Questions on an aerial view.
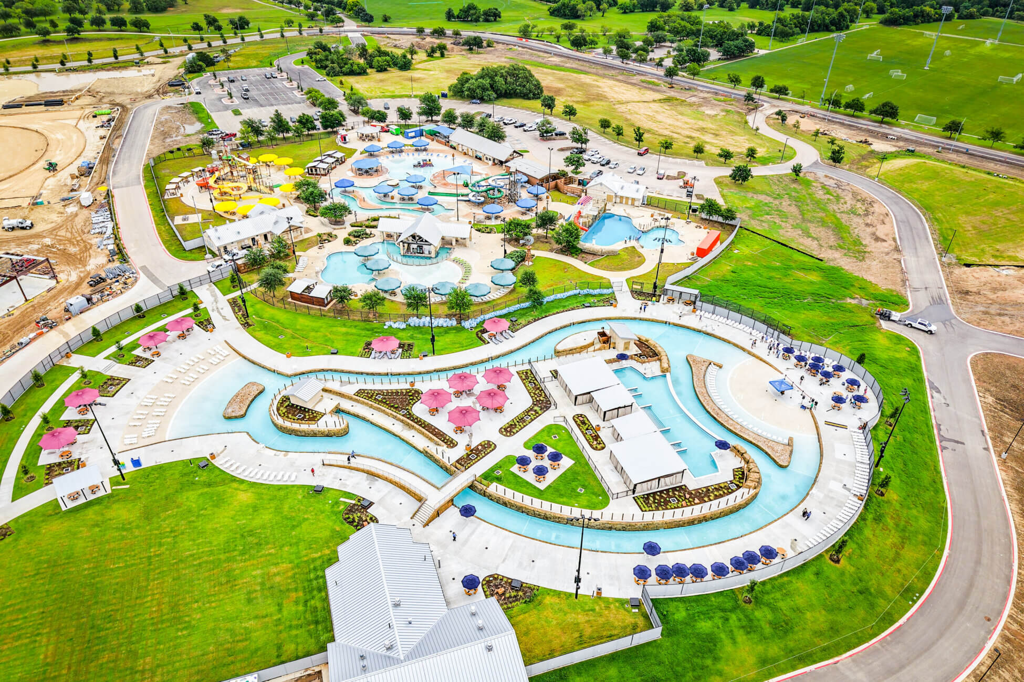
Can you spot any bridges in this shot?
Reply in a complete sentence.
Yes, the frame does contain a bridge.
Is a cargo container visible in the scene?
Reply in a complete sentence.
Yes, there is a cargo container in the image.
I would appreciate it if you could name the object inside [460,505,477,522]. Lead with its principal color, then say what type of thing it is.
blue umbrella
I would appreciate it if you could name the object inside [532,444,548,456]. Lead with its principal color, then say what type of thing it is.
blue umbrella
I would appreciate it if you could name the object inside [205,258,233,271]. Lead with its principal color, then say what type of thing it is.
white vehicle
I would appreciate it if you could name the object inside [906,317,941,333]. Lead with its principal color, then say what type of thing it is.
white vehicle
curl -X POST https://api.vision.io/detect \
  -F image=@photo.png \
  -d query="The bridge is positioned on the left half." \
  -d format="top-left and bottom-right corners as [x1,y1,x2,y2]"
[322,451,475,527]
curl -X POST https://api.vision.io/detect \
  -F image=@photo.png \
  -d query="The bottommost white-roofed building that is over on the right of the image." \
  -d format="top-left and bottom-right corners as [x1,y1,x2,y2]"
[608,432,688,498]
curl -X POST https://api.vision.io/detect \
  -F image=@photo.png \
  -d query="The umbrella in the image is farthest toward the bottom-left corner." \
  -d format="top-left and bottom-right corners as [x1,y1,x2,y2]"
[39,428,78,454]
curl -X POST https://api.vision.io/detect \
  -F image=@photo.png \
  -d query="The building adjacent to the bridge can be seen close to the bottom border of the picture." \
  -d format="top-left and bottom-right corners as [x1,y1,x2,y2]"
[316,522,528,682]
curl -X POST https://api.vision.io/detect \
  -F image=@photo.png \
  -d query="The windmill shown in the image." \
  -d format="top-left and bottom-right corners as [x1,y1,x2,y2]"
[521,239,534,263]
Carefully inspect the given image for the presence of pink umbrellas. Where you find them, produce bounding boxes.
[476,389,508,413]
[166,318,195,339]
[447,407,481,432]
[420,390,452,412]
[482,368,513,390]
[371,337,400,358]
[66,389,101,413]
[139,333,169,353]
[448,372,479,395]
[480,319,508,337]
[39,428,78,454]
